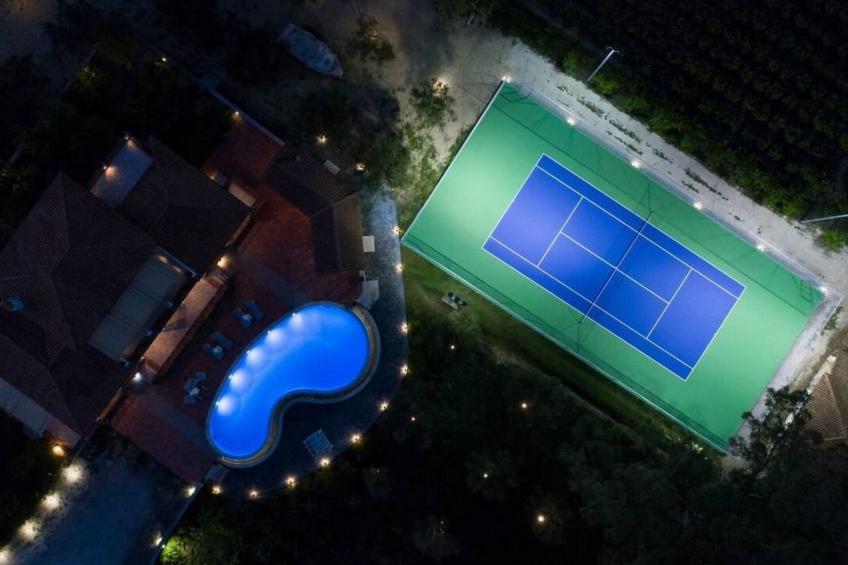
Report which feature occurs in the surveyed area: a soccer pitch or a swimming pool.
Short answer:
swimming pool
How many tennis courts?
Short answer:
1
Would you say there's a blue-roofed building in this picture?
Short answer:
No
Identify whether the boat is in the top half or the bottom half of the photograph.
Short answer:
top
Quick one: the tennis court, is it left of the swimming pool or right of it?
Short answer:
to the right of it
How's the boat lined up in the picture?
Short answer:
at an angle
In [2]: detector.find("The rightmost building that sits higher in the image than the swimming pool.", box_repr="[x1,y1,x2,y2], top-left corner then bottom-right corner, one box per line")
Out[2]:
[263,142,375,272]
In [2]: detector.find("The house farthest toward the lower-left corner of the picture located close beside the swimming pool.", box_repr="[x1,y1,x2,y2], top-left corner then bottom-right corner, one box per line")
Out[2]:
[0,135,253,447]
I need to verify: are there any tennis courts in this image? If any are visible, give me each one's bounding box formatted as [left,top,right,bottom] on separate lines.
[402,82,828,450]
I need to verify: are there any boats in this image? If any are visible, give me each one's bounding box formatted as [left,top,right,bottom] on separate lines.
[279,26,341,72]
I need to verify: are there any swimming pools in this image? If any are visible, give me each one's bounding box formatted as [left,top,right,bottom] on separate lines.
[205,299,379,470]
